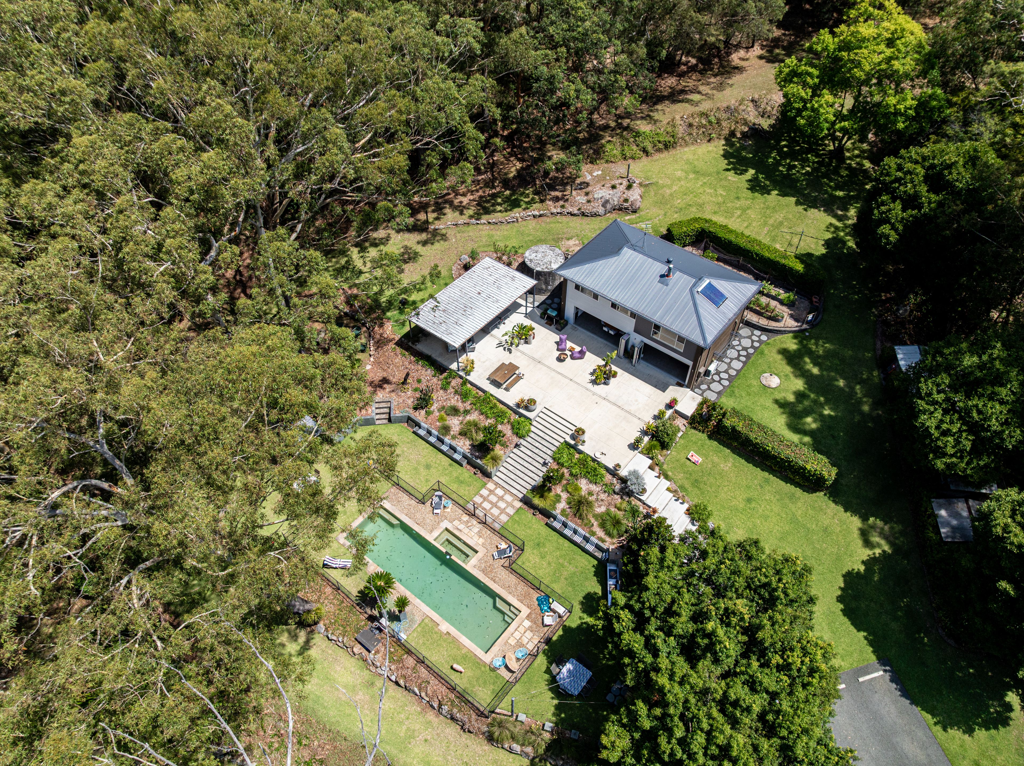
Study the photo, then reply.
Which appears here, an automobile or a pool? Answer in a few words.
pool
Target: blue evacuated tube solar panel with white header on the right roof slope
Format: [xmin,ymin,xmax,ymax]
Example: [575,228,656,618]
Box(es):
[693,276,729,308]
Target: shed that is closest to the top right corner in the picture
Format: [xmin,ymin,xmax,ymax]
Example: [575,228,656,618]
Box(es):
[886,345,931,388]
